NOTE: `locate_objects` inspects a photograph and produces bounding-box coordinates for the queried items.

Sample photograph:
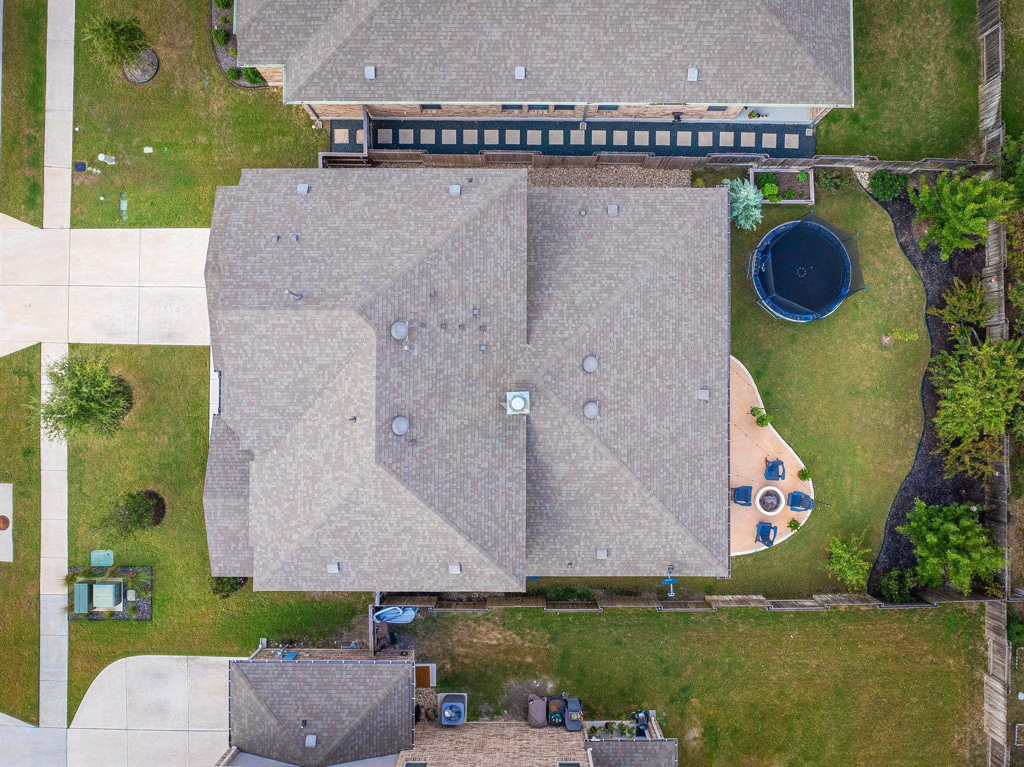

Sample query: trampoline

[744,210,866,325]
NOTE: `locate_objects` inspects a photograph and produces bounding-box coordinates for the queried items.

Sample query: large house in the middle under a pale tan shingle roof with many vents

[203,168,733,592]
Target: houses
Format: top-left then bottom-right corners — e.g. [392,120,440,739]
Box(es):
[203,168,733,592]
[213,642,678,767]
[234,0,854,127]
